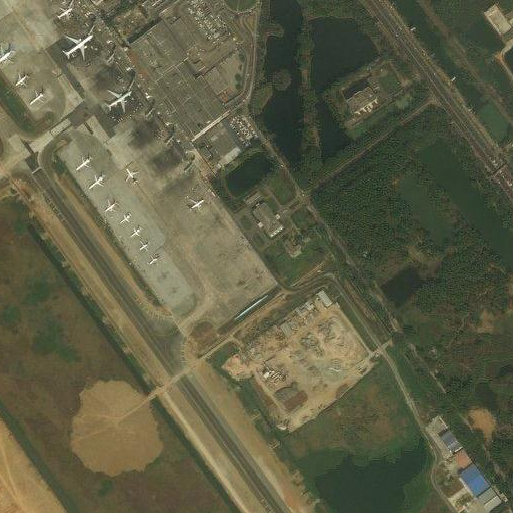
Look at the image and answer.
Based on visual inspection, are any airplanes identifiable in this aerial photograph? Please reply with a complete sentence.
Yes, the picture does show an airplane.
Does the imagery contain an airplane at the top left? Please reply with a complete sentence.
Yes, an airplane shows up at the top left.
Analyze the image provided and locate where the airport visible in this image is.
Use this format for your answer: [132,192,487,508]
[0,0,294,513]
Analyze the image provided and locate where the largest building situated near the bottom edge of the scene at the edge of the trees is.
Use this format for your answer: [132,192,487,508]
[462,464,490,497]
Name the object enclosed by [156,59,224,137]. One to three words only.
building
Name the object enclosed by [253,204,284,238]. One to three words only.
building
